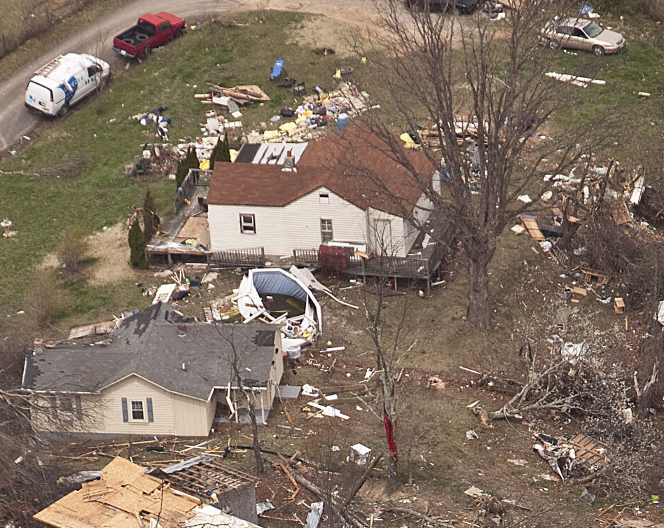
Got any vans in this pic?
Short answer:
Yes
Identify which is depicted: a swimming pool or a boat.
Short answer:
swimming pool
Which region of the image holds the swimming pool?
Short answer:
center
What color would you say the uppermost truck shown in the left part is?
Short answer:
red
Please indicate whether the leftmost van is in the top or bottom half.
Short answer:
top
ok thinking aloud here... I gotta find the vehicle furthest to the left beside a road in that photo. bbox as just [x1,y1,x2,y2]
[25,58,109,117]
